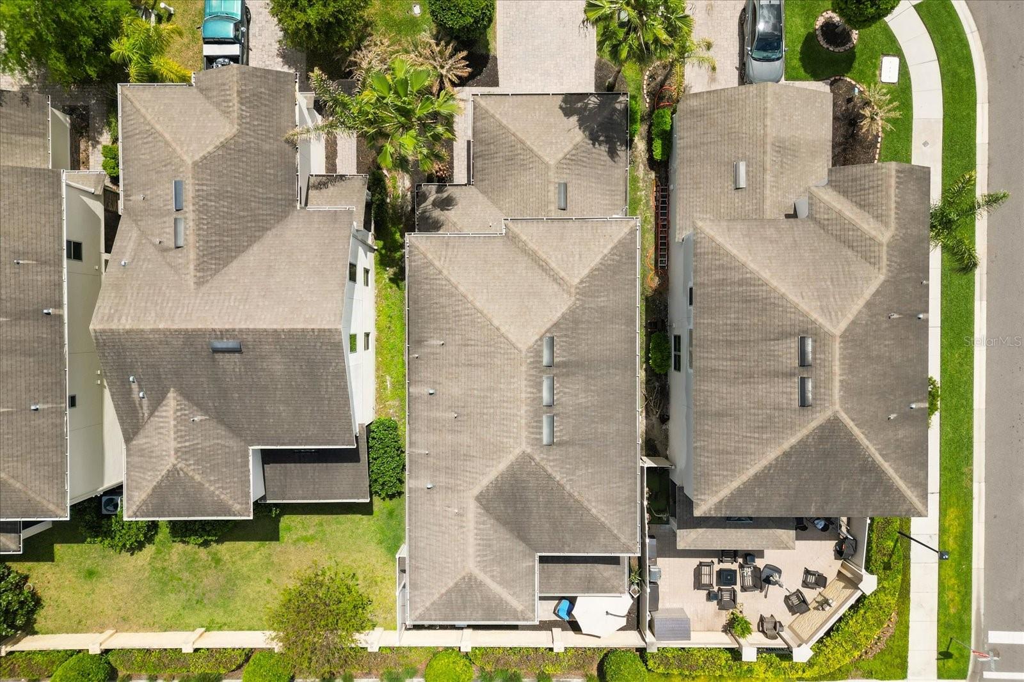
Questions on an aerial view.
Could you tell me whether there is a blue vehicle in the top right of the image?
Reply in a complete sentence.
No, no blue vehicle is visible in the top right of the image.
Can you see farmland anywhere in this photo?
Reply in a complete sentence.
No, the picture contains no farmland.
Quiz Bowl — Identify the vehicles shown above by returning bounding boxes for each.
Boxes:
[203,0,249,72]
[744,0,791,84]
